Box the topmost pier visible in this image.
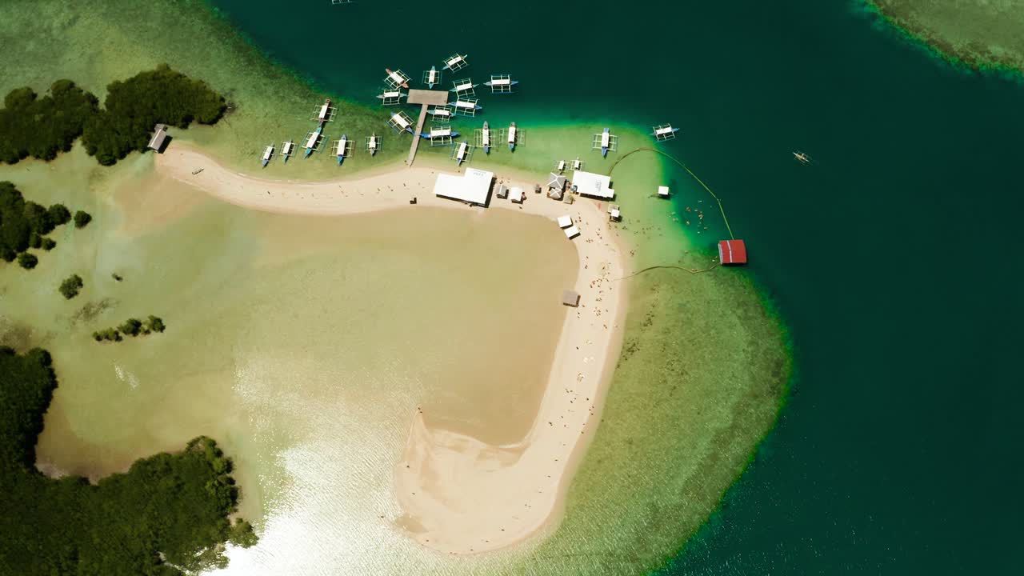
[407,89,449,166]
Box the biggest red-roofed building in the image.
[716,238,747,269]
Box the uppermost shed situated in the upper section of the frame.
[146,127,178,155]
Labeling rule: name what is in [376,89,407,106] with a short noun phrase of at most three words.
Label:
boat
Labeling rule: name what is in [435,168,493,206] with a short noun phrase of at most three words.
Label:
building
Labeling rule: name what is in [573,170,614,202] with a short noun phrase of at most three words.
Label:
building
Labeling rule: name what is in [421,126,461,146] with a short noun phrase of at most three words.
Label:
boat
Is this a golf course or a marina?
marina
